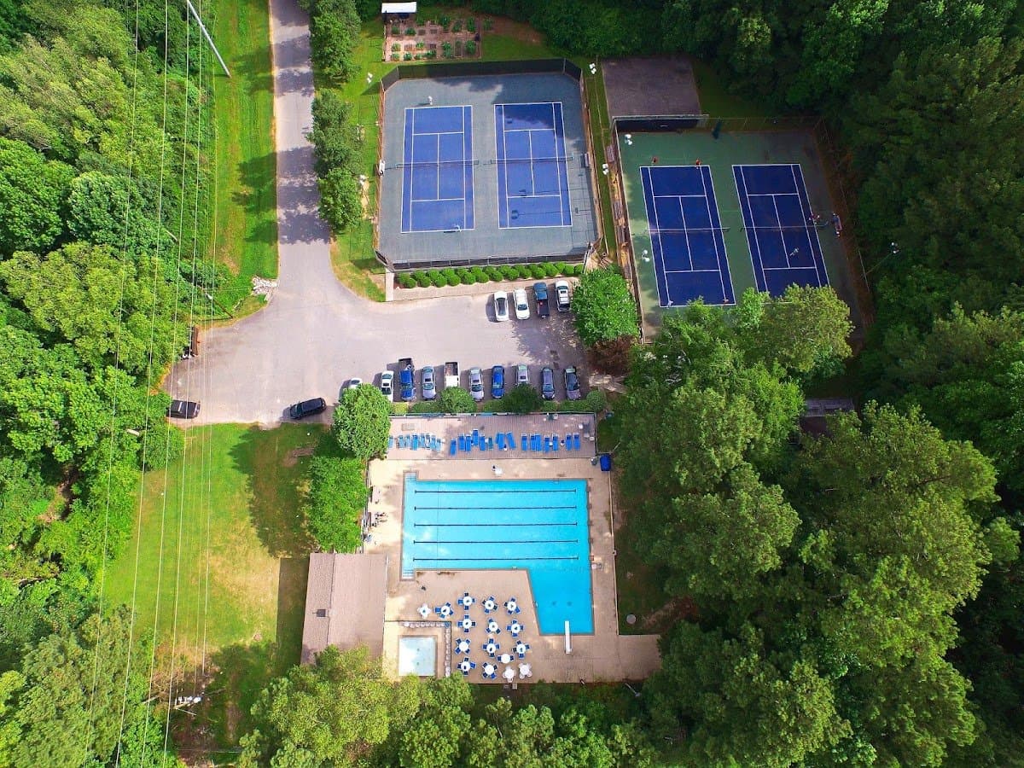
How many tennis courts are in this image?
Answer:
4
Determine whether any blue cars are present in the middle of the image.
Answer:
Yes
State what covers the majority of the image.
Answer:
trees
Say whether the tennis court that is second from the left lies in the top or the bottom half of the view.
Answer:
top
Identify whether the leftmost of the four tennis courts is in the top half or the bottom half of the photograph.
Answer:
top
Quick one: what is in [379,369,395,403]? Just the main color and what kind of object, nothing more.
white car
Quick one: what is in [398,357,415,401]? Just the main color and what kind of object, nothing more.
blue vehicle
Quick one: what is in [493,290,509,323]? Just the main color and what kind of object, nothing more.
white car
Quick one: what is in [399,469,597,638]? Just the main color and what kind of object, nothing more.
blue swimming pool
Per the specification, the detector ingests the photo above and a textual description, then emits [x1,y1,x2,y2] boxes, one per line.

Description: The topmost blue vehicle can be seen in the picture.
[534,281,551,318]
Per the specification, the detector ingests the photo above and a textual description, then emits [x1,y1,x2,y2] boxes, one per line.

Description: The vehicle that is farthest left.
[161,399,205,418]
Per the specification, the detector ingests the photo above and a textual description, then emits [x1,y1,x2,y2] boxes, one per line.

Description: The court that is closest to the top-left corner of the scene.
[395,105,480,233]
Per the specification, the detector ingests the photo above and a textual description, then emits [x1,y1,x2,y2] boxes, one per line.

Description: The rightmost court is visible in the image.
[731,163,832,301]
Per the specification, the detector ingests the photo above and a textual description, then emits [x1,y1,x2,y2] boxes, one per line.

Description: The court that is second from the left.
[490,102,574,229]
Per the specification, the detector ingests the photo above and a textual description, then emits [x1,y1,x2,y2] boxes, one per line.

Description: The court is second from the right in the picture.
[640,166,733,306]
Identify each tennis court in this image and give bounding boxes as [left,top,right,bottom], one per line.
[490,102,574,229]
[640,166,733,306]
[395,105,480,233]
[731,163,832,301]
